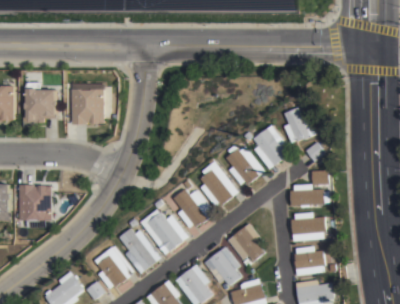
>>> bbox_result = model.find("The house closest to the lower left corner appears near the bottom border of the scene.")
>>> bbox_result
[46,272,85,304]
